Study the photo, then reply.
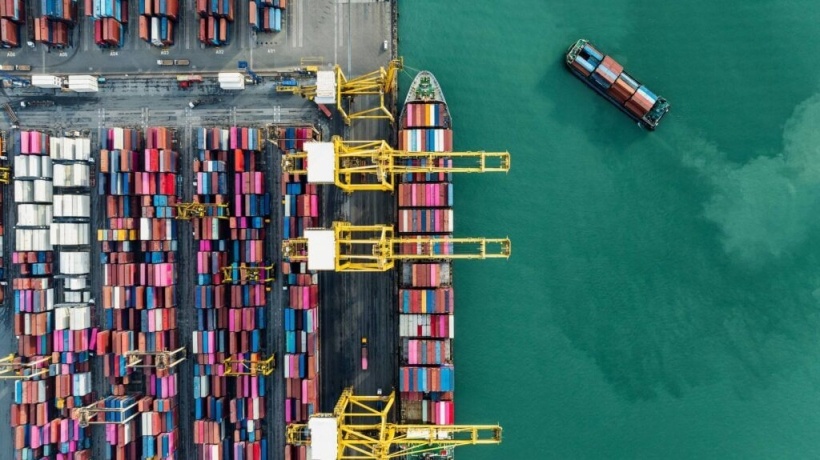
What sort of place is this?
port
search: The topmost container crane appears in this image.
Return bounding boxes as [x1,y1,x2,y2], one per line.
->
[278,46,401,133]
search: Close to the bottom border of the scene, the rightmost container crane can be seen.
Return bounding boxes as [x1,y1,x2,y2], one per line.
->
[287,385,502,460]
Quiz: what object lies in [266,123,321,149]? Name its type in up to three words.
container crane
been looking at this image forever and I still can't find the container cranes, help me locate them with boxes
[283,221,511,272]
[223,262,279,282]
[266,123,321,149]
[0,167,22,186]
[0,355,44,380]
[126,344,188,368]
[179,203,236,220]
[226,351,279,376]
[283,136,511,197]
[278,46,401,133]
